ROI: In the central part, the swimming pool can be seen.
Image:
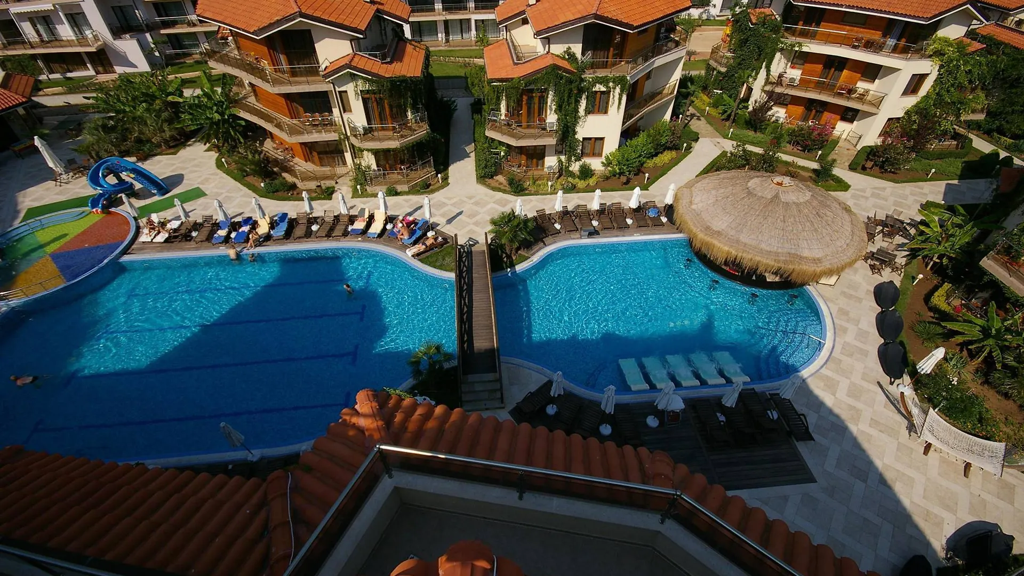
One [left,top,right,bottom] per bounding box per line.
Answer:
[0,237,825,459]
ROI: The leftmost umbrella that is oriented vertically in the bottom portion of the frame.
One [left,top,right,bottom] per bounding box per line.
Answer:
[545,371,561,404]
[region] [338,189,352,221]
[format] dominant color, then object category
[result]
white umbrella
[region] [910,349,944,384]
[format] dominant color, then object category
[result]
white umbrella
